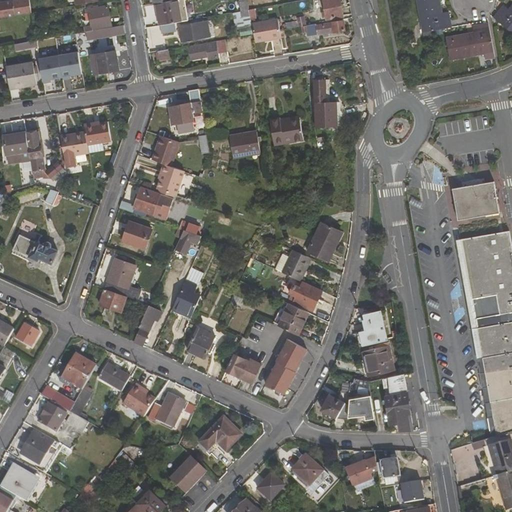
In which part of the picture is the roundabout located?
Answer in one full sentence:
You can find the roundabout in the top right area of the picture.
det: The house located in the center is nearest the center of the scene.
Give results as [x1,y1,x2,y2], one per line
[276,250,312,281]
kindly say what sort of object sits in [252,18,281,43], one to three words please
house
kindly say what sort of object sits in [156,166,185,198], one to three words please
house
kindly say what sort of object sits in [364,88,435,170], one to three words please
roundabout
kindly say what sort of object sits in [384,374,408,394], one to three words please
building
